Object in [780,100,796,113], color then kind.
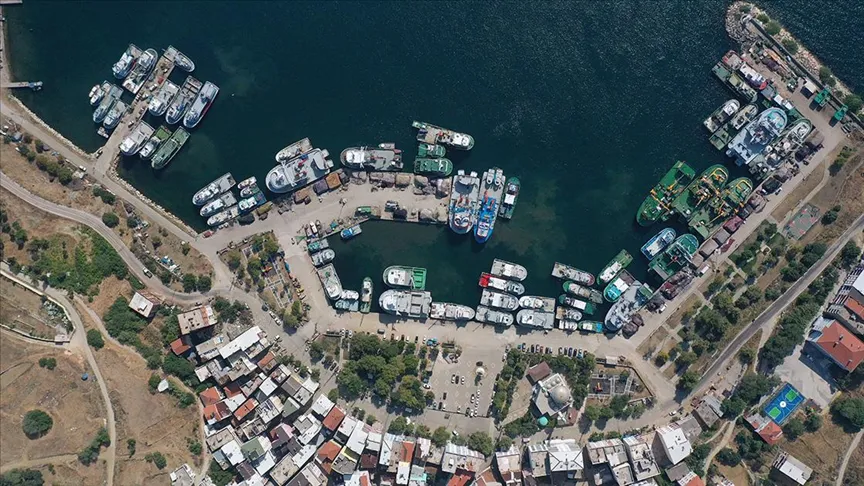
white boat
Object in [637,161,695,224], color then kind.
green boat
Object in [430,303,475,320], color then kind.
white boat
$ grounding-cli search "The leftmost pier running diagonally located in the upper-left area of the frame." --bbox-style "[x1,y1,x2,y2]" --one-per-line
[105,58,174,158]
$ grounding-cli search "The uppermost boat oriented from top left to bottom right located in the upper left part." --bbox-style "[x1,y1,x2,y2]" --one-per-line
[165,50,194,73]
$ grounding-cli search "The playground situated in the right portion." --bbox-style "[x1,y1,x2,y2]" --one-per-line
[584,369,637,404]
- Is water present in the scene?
Yes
